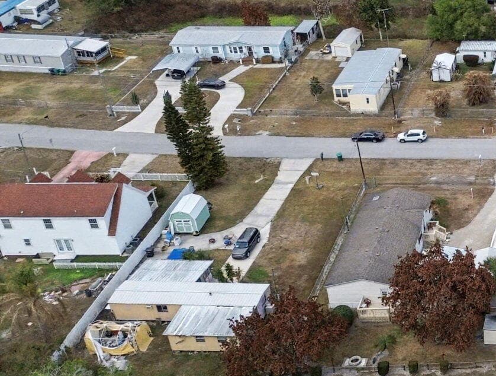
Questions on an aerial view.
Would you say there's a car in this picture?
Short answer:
Yes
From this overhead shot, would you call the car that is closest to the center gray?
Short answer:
Yes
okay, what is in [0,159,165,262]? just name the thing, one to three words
house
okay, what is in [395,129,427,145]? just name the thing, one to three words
car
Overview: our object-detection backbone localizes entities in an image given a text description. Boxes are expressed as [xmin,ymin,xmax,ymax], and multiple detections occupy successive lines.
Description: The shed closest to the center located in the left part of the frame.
[166,189,214,235]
